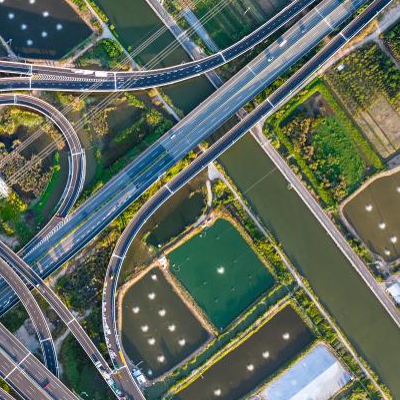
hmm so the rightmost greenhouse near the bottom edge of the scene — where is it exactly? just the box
[261,344,351,400]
